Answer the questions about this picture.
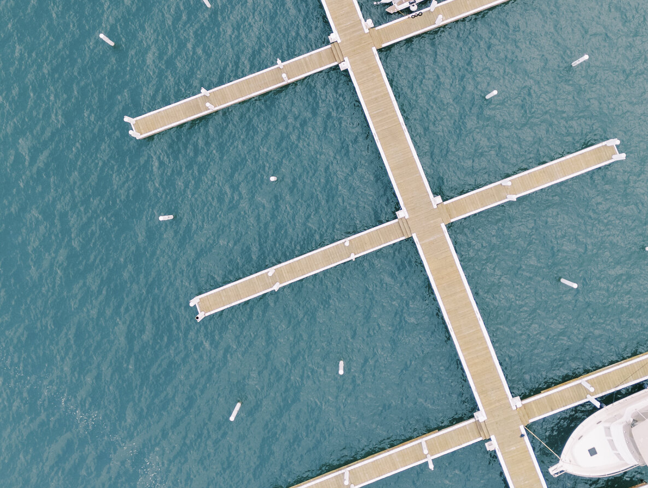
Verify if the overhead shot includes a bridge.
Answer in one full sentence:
No, this view has no bridge in it.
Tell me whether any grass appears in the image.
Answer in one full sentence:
No, no grass is visible.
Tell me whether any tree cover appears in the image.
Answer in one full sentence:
No, no tree cover is visible.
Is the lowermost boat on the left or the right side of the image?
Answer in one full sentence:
It is on the right.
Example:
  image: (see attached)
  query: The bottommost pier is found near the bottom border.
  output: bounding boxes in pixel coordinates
[287,417,489,488]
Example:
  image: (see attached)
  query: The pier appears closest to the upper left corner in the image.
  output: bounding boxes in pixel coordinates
[131,42,344,138]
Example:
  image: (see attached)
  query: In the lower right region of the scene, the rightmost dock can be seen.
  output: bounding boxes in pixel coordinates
[516,350,648,425]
